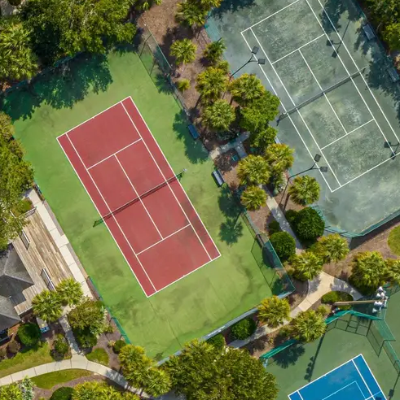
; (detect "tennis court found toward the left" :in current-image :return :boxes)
[0,34,284,364]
